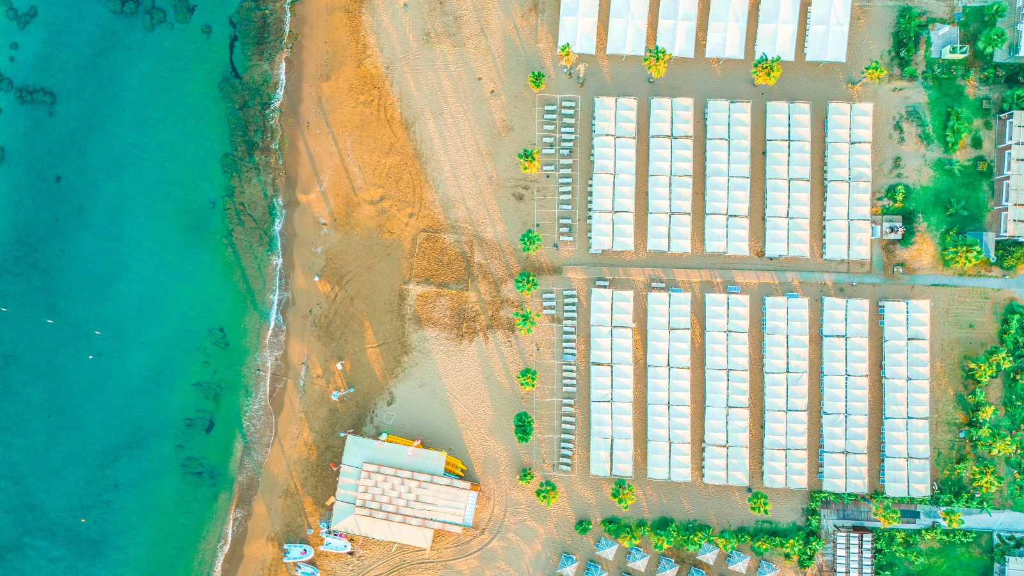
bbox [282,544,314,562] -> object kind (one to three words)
boat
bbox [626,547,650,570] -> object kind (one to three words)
umbrella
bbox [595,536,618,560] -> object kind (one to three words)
umbrella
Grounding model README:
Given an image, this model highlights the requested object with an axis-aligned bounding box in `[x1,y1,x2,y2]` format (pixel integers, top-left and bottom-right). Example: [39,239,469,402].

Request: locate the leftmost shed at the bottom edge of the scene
[329,433,480,548]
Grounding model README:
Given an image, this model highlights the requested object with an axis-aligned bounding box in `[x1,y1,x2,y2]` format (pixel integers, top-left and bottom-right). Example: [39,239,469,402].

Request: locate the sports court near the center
[405,234,475,348]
